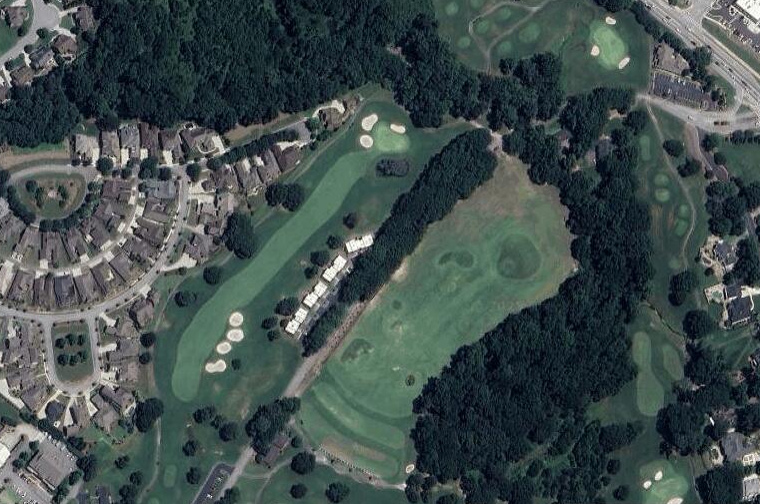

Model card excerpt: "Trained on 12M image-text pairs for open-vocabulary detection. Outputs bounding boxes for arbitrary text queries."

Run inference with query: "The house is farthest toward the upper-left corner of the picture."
[3,7,28,26]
